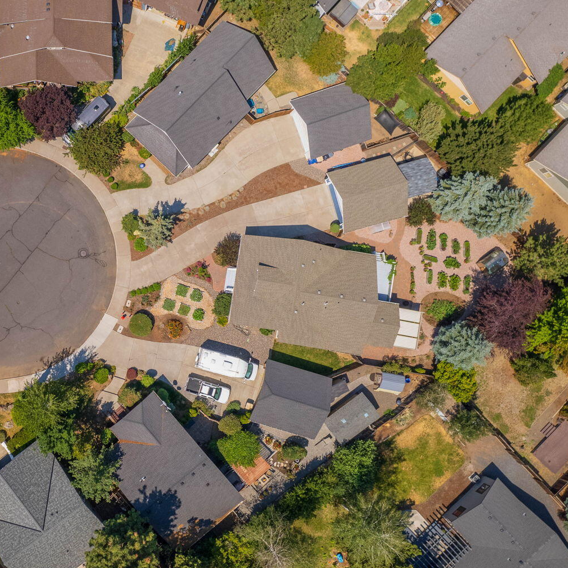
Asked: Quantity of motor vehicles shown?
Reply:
3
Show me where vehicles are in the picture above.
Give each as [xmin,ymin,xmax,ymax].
[183,375,233,403]
[192,344,256,376]
[68,89,113,144]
